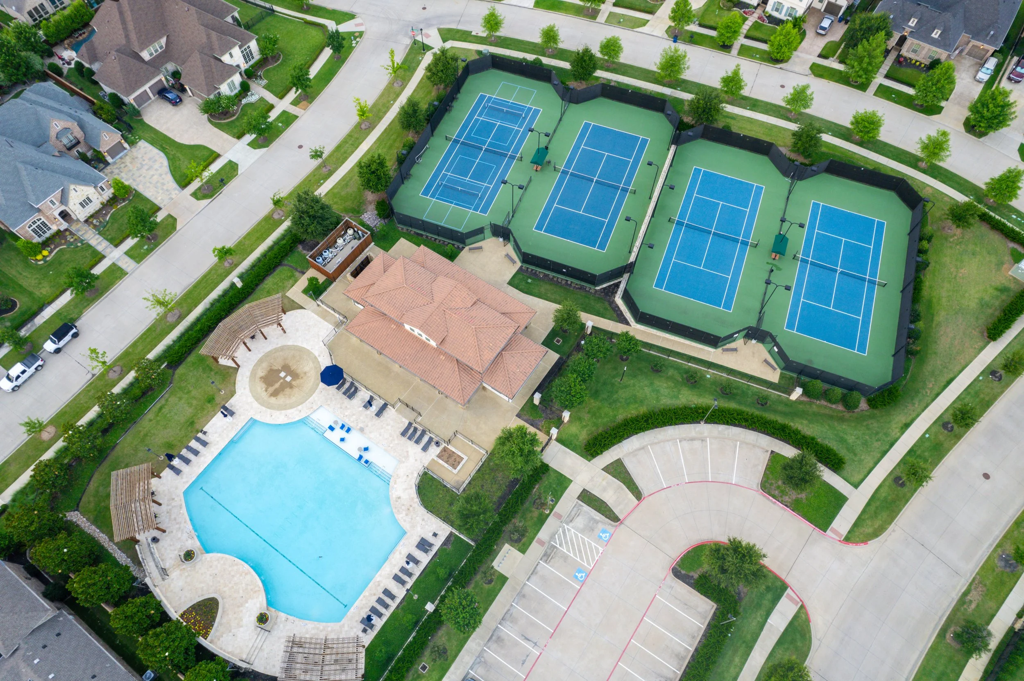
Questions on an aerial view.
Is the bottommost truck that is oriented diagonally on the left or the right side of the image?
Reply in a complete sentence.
The bottommost truck that is oriented diagonally sits on the left side.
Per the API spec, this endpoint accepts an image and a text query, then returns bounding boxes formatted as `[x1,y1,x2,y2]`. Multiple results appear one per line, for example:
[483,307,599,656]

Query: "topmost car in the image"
[818,13,835,33]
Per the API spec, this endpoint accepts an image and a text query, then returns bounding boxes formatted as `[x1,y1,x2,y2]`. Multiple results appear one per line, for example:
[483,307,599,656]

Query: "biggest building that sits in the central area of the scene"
[343,243,549,406]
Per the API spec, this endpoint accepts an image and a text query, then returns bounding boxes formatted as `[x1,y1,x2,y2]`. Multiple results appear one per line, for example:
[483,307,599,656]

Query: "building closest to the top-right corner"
[869,0,1021,62]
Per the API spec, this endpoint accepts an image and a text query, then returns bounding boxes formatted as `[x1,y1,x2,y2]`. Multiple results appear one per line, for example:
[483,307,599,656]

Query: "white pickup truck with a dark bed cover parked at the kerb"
[0,352,46,395]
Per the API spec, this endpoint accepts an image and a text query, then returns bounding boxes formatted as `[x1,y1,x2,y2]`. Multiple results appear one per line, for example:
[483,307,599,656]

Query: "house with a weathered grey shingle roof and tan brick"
[0,557,142,681]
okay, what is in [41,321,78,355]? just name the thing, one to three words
car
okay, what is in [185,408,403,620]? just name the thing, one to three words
swimming pool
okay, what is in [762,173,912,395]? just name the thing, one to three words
tennis court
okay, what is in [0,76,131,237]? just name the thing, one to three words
house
